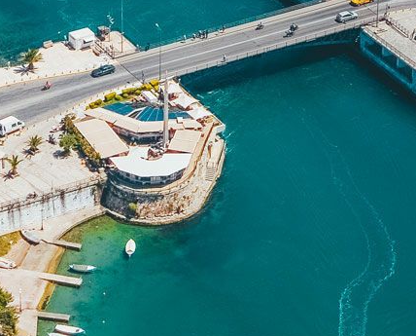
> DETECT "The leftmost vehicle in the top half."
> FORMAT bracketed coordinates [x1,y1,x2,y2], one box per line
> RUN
[0,116,24,135]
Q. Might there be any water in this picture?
Yes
